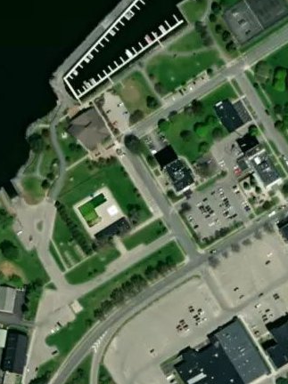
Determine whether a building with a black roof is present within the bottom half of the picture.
Yes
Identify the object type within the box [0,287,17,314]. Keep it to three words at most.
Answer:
shed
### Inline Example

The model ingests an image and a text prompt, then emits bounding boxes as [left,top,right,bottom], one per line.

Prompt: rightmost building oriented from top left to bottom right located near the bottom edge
[216,320,272,384]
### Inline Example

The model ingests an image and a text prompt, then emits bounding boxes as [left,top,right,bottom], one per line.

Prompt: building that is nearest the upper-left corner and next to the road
[69,107,114,152]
